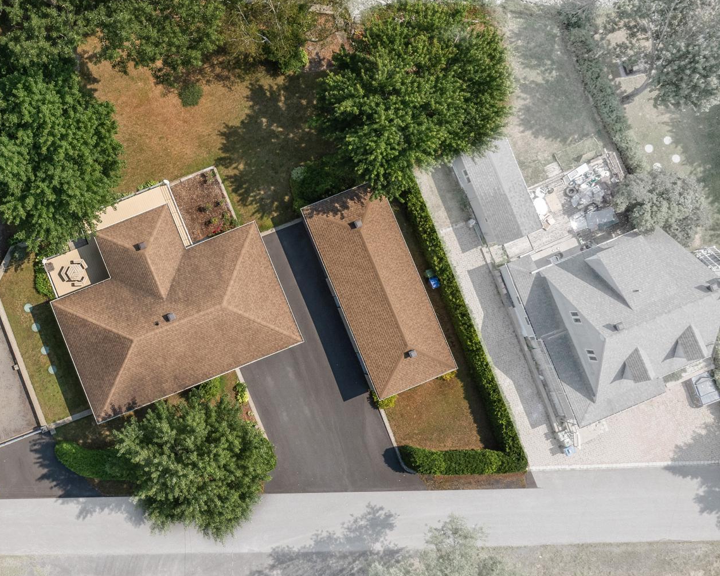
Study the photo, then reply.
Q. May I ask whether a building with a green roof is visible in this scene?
No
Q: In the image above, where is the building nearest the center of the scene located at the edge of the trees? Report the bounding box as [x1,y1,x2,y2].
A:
[294,181,450,401]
